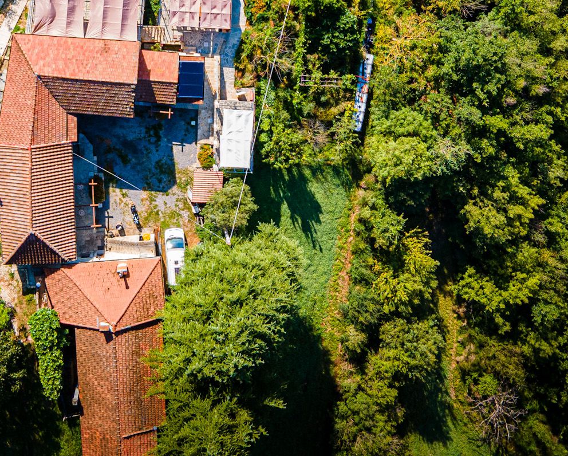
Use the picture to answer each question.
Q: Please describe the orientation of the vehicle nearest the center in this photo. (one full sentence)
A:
What the image shows is the vehicle nearest the center lying from top to bottom.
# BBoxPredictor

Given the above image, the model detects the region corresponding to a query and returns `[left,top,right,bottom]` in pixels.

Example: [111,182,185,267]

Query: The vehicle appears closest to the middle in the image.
[163,226,188,291]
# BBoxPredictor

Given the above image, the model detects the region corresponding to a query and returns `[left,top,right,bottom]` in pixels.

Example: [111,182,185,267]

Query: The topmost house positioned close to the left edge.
[0,32,141,265]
